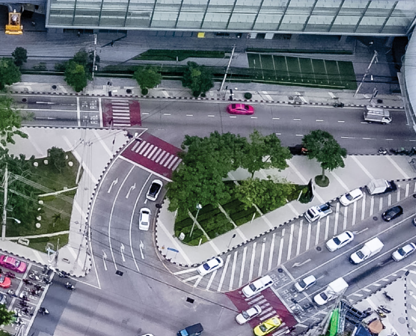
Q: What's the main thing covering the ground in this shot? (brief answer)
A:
paved ground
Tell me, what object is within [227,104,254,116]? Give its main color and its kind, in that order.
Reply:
pink vehicle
